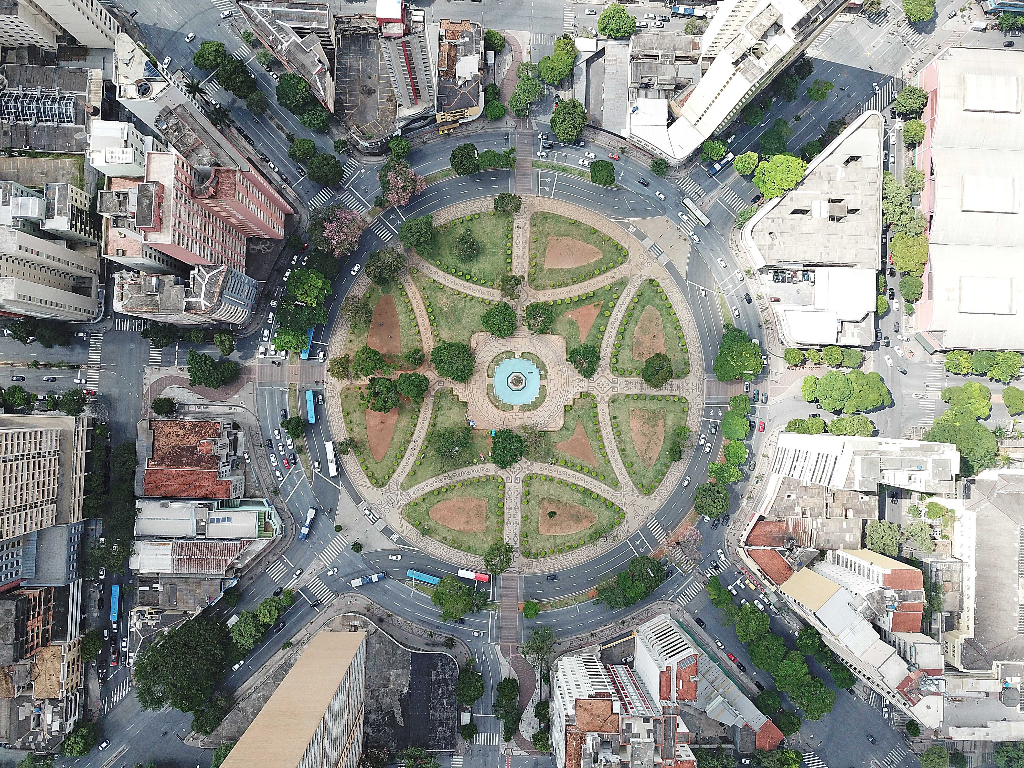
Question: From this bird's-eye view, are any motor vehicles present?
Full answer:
Yes, a motor vehicle appears in the view.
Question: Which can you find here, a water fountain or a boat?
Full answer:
Visible in the photo is a water fountain.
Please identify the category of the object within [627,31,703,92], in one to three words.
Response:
building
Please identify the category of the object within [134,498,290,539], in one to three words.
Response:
building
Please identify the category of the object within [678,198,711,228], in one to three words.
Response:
bus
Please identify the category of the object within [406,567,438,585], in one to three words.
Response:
vehicle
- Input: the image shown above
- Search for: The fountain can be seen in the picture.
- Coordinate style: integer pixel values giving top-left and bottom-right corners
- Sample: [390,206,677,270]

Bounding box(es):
[493,358,540,404]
